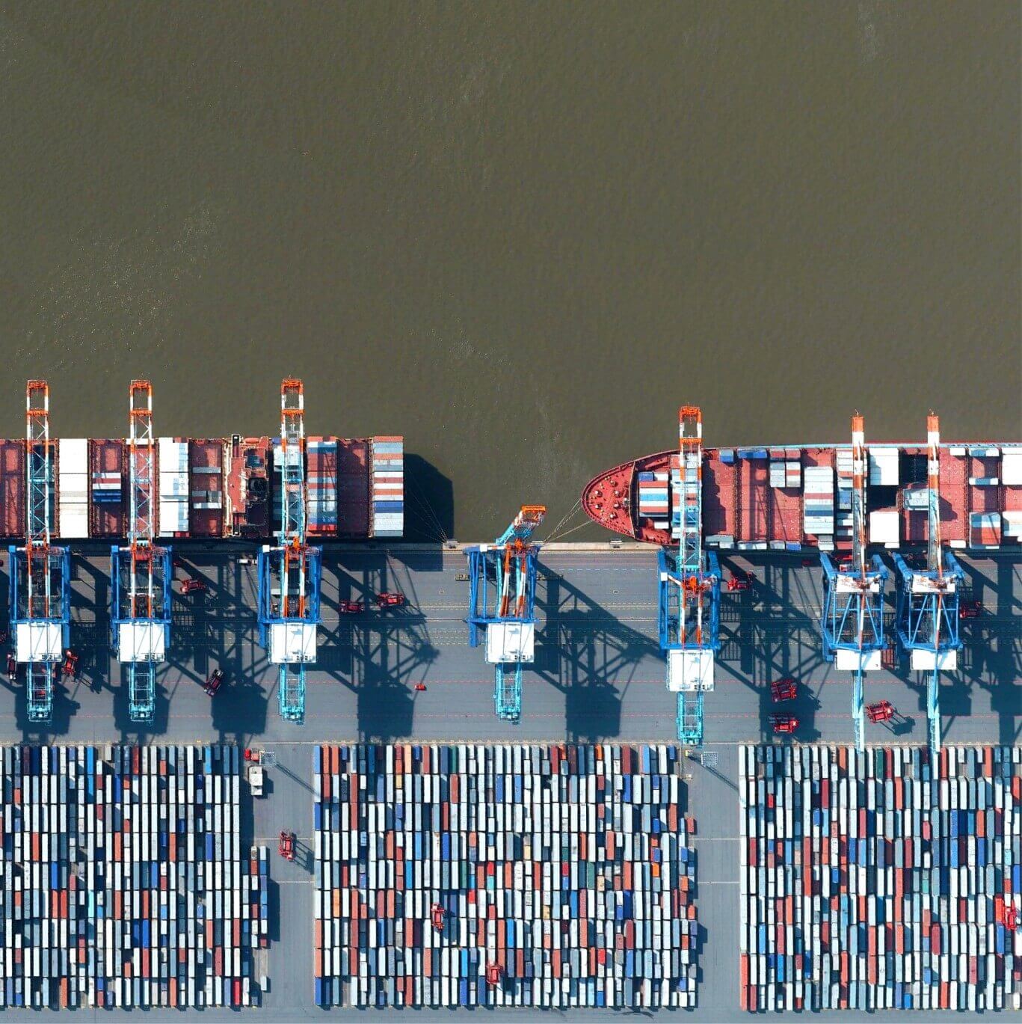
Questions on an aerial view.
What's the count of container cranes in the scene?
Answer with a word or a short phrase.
7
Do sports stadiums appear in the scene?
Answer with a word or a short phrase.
No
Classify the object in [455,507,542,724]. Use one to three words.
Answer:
container crane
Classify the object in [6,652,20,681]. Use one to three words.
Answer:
work vehicle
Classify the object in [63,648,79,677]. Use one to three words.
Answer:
work vehicle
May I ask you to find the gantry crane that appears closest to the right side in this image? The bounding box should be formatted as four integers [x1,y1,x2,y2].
[882,414,965,754]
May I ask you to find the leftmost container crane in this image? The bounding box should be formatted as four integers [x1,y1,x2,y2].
[5,378,88,724]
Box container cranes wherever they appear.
[105,378,189,724]
[638,404,724,748]
[249,378,333,724]
[455,507,542,724]
[799,415,889,754]
[5,378,88,724]
[882,414,965,754]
